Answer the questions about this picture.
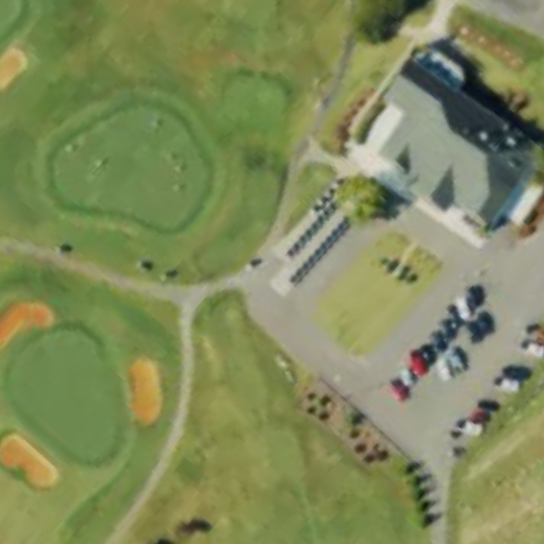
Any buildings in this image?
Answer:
Yes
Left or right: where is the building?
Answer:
right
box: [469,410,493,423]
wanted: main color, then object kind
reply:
red vehicle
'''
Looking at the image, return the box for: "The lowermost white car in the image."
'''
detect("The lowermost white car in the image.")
[458,420,483,434]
